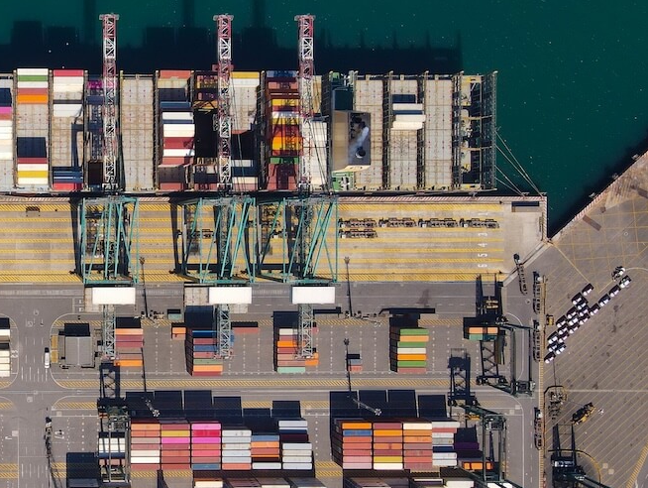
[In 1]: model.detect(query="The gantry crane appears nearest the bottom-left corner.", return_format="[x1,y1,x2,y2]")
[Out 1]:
[101,400,134,483]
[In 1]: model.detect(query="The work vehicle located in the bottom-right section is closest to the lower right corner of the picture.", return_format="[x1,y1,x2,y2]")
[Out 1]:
[574,401,602,422]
